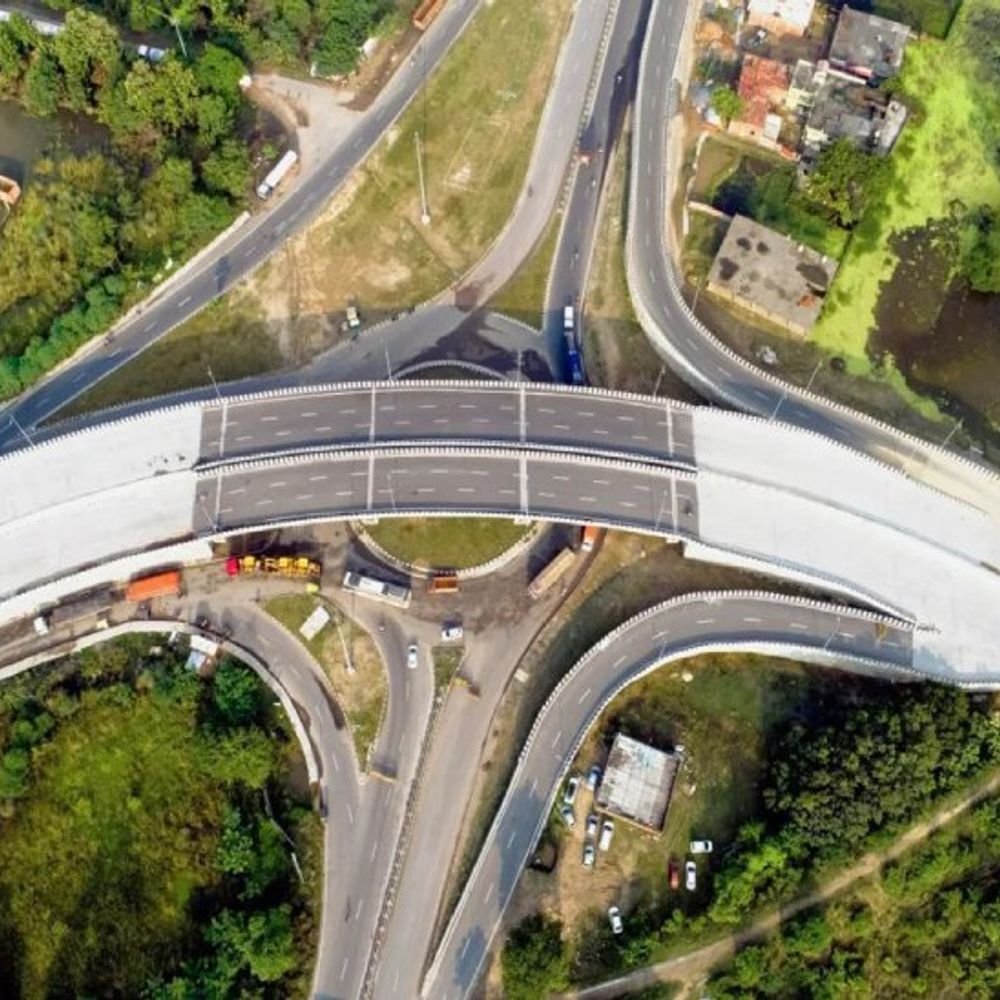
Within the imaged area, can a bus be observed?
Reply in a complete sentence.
Yes, I can see a bus in this picture.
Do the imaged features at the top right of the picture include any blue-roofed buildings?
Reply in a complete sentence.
No, no blue-roofed building is visible at the top right of the picture.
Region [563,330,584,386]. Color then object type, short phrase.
blue vehicle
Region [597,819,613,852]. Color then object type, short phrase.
white car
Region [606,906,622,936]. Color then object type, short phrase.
white car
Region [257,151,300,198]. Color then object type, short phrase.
white truck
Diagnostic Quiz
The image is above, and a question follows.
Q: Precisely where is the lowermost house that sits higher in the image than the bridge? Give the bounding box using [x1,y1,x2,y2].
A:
[708,213,838,337]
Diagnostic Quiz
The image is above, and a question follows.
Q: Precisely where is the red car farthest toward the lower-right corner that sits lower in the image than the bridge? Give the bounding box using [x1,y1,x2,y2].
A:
[667,859,681,889]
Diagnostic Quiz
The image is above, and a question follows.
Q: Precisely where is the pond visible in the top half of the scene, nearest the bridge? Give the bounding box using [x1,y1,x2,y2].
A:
[865,210,1000,476]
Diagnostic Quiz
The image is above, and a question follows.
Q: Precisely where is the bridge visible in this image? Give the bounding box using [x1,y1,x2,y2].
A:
[0,380,1000,687]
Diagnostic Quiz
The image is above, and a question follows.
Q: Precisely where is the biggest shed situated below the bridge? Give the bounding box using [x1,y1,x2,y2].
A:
[597,733,680,833]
